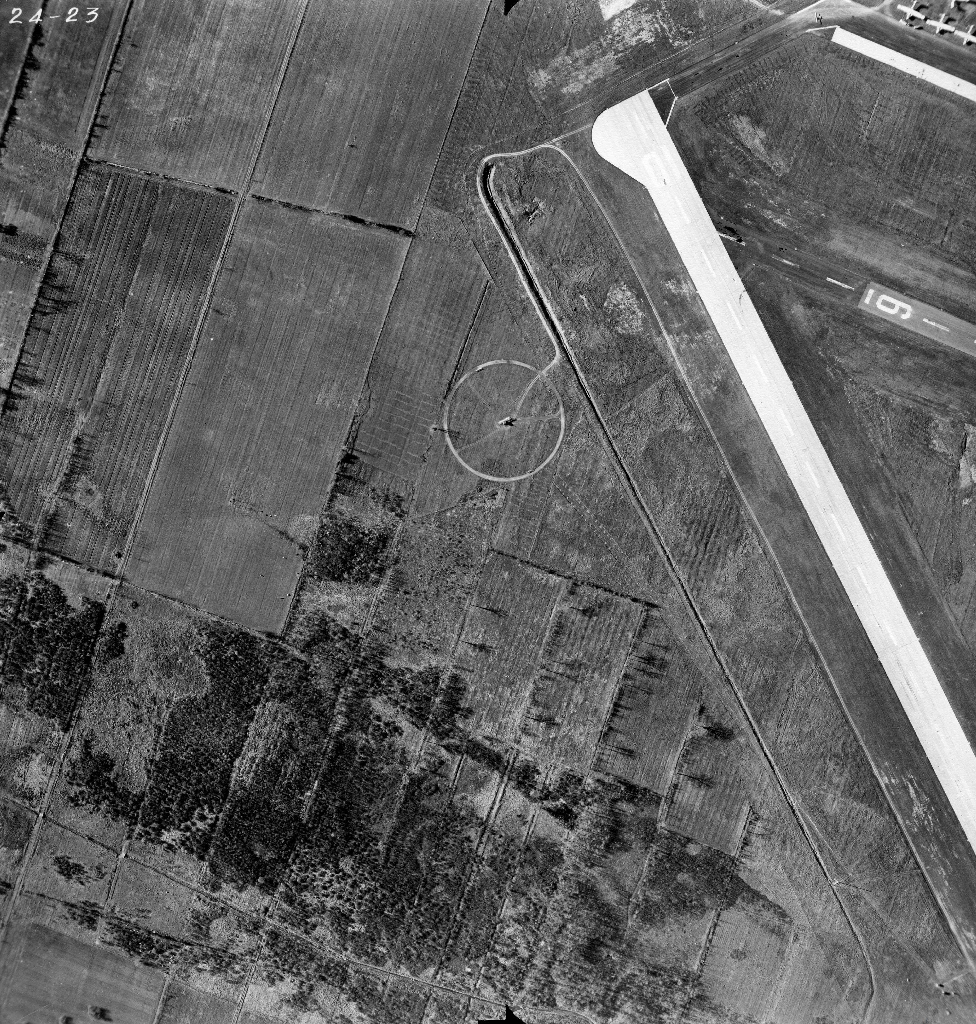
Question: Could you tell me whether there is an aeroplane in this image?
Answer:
Yes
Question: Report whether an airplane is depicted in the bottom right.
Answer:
No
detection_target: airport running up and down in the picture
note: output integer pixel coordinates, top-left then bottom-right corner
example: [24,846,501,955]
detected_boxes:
[592,0,976,853]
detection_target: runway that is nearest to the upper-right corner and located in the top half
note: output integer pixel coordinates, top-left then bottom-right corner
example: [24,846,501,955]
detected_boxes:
[858,281,976,359]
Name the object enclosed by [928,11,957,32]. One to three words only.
airplane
